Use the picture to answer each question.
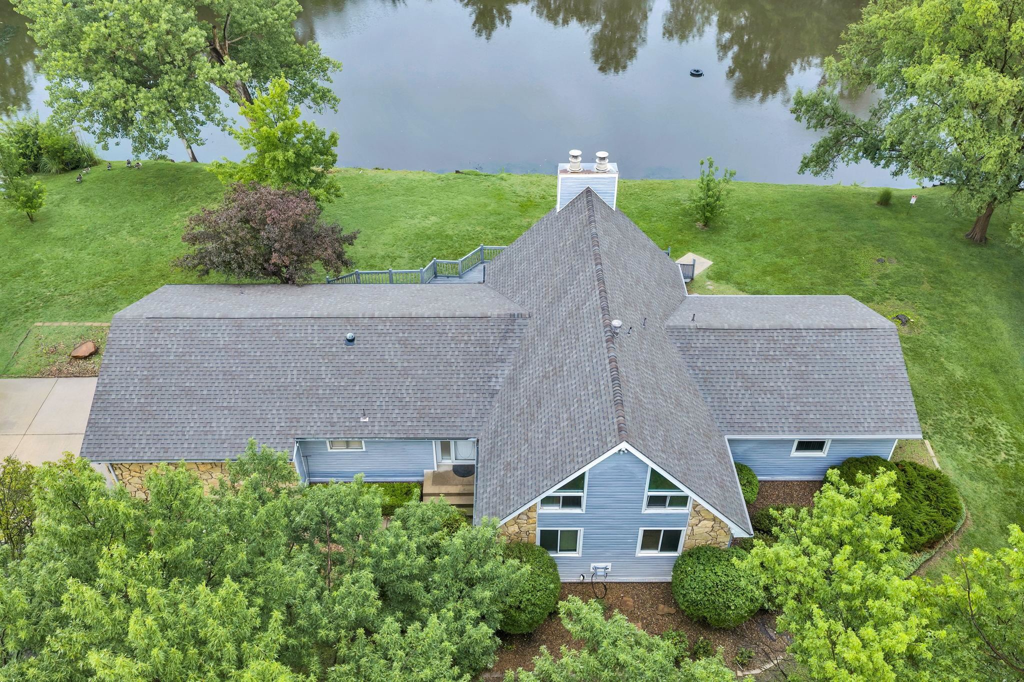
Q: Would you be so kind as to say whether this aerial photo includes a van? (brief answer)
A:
No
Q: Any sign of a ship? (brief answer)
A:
No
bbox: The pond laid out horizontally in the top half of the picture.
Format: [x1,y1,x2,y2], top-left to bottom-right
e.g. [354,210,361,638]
[0,0,1024,191]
